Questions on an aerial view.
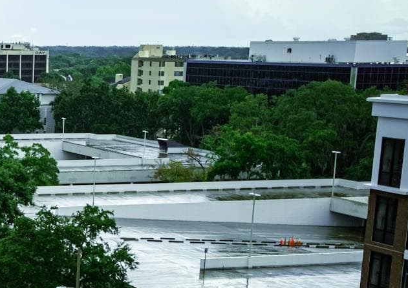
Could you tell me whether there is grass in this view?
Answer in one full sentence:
No, the scene doesn't show any grass.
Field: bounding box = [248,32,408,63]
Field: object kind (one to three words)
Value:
house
